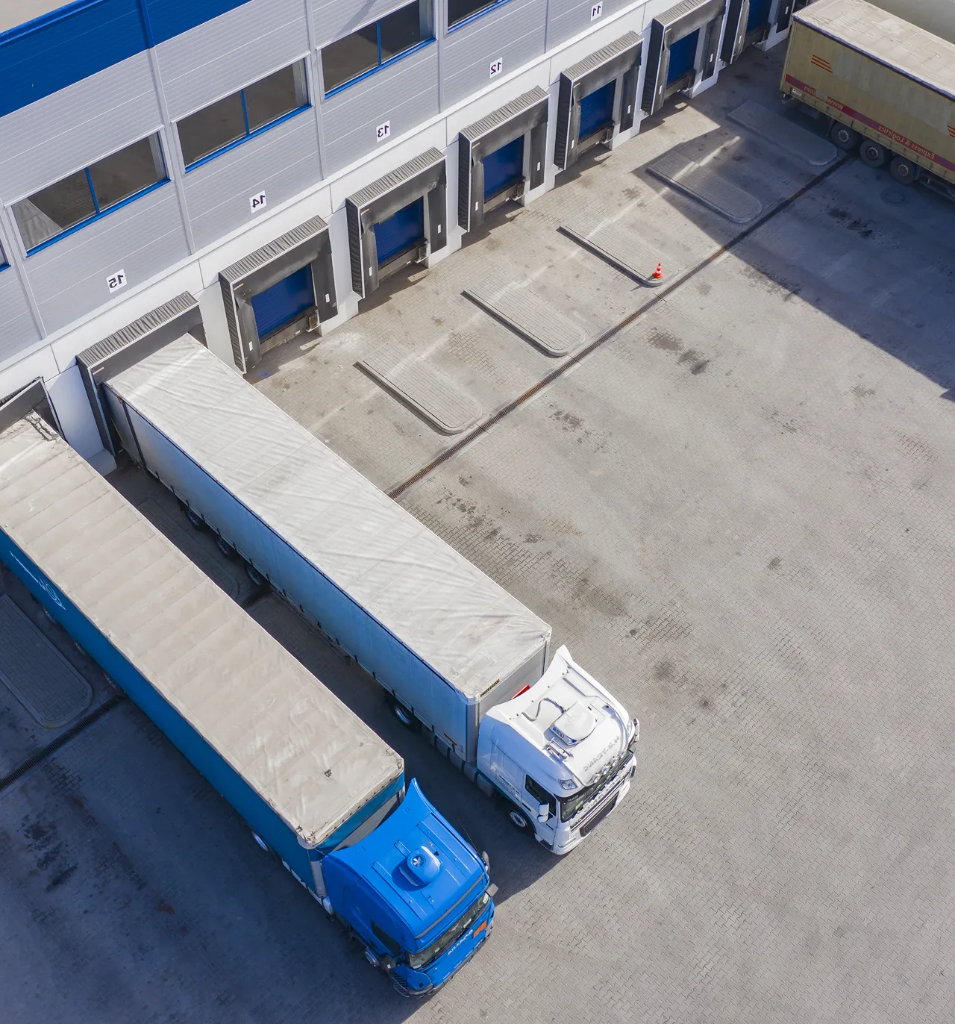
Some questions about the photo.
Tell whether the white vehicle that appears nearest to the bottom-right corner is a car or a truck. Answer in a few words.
truck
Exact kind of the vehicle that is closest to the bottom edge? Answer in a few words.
truck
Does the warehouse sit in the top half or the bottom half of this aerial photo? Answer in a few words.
top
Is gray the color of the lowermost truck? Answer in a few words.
No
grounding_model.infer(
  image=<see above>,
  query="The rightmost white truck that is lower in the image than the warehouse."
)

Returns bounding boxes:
[391,642,639,853]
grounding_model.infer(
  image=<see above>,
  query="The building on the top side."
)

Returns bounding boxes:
[0,0,813,460]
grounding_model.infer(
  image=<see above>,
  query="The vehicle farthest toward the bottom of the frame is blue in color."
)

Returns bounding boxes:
[321,777,497,1006]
